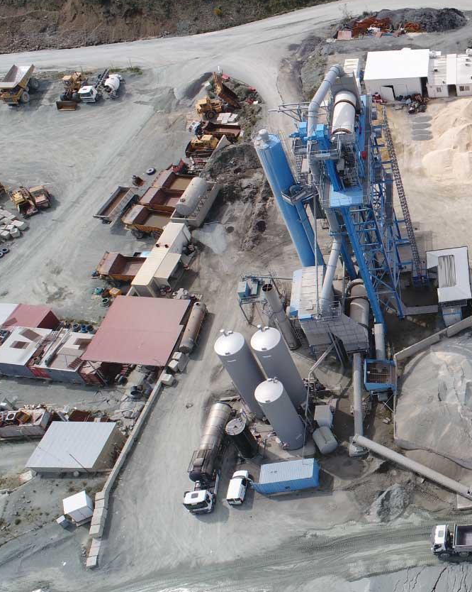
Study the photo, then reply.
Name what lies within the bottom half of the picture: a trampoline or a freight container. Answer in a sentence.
Visible within the bottom half of the picture is a freight container.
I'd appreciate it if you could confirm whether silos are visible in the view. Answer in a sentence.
Yes, I can see a silo in this picture.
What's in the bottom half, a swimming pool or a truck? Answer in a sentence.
What appears in the bottom half is a truck.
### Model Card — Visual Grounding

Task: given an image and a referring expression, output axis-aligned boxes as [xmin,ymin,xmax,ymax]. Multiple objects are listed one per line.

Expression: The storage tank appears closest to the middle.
[178,302,209,354]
